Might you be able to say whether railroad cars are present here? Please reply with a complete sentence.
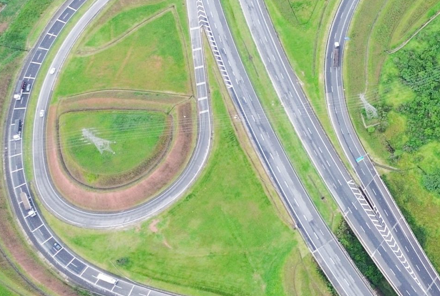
No, there is no railroad car in the image.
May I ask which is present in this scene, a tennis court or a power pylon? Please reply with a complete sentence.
There is a power pylon in the scene.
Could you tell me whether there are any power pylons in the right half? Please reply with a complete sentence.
Yes, I can see a power pylon in the right half.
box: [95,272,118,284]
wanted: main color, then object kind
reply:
white vehicle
